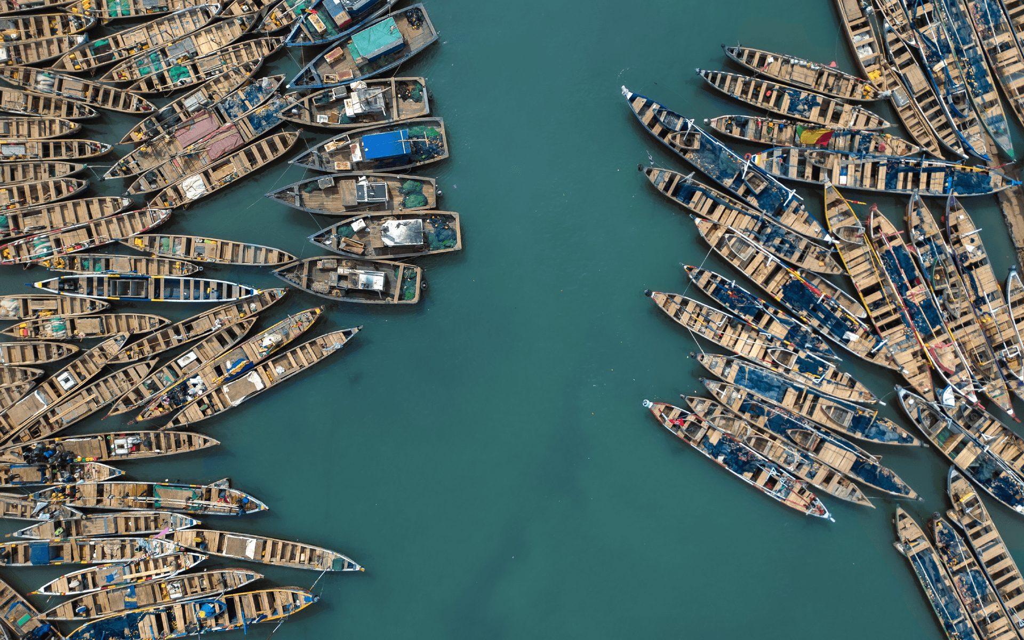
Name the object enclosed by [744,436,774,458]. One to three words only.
boat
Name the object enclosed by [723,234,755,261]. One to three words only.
boat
